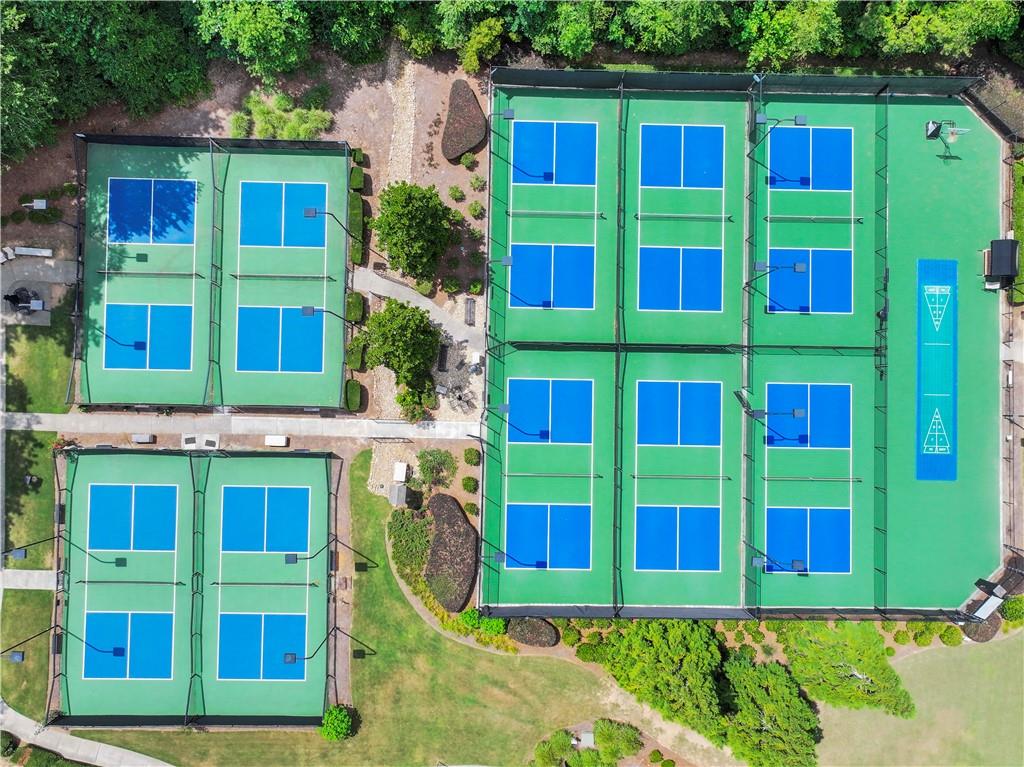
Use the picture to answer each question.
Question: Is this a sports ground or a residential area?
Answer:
sports ground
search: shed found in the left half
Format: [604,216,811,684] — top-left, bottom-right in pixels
[386,483,405,508]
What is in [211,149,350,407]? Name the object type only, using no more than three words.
sports court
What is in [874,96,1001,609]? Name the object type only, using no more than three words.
basketball court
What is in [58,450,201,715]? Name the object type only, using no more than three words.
sports court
